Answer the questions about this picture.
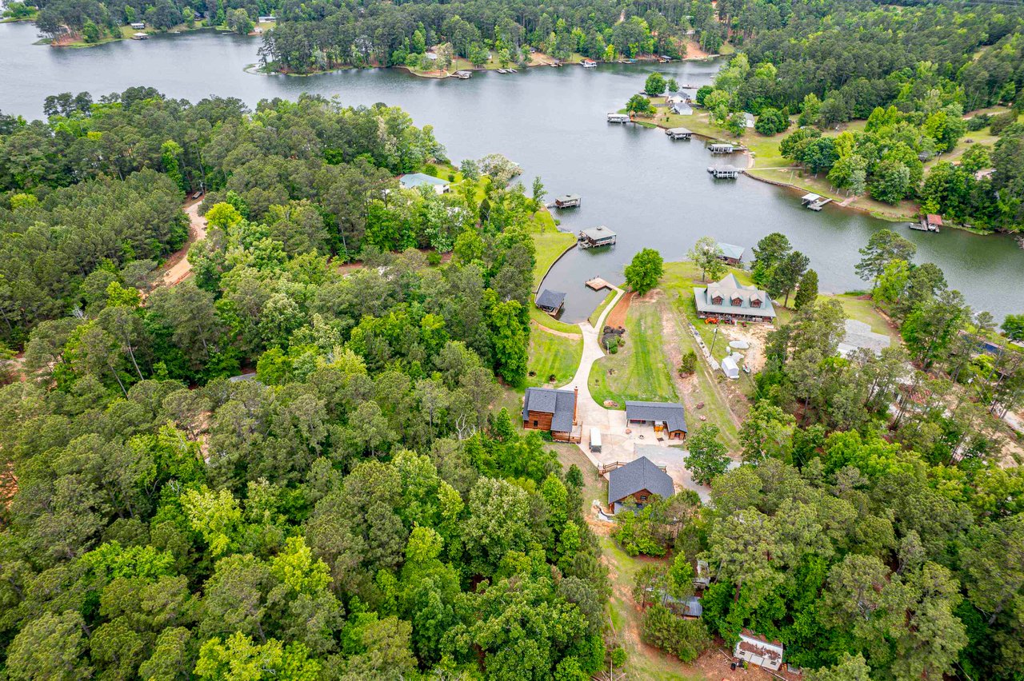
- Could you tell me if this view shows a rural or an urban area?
rural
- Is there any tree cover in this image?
Yes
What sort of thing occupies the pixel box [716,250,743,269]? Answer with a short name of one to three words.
building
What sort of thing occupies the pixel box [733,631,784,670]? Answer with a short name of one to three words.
vehicle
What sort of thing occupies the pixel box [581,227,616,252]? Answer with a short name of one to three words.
building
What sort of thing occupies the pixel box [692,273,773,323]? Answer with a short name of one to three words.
house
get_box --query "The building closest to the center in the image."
[537,293,570,321]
